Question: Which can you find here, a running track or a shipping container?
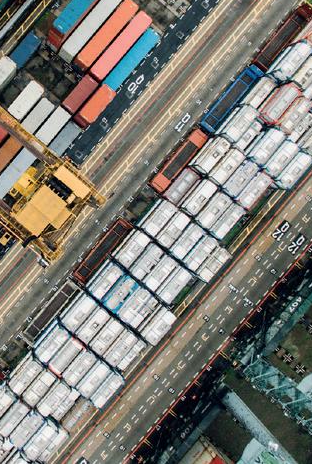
shipping container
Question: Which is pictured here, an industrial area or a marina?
industrial area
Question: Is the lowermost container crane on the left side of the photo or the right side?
right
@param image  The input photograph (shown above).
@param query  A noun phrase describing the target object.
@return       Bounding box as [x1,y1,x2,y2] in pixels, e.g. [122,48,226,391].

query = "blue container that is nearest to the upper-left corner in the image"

[7,26,44,70]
